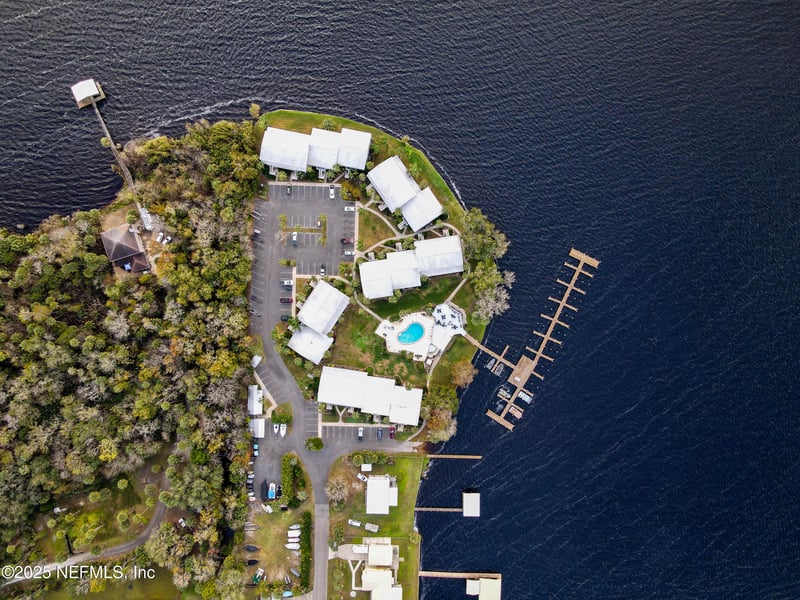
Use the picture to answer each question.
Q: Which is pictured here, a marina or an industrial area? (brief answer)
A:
marina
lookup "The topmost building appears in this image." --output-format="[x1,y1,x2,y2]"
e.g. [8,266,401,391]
[71,79,105,109]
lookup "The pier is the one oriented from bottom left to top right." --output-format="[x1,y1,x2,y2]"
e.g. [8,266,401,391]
[462,248,600,430]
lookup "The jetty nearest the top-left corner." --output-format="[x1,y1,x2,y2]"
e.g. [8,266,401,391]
[92,103,142,209]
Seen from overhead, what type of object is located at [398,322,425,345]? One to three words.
swimming pool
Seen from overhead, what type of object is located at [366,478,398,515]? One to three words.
house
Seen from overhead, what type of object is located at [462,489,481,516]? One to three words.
building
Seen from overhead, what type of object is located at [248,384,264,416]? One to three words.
shed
